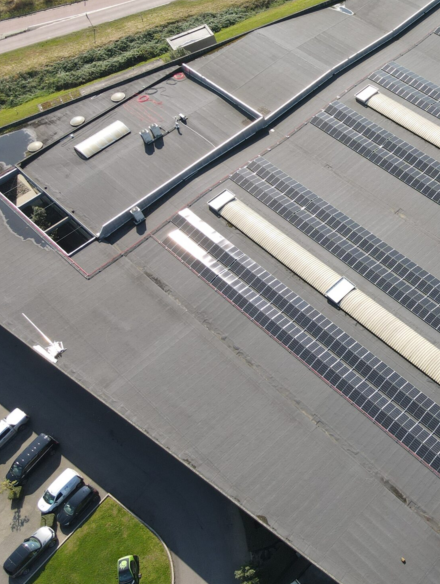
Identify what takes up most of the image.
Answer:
buildings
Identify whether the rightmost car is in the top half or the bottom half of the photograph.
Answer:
bottom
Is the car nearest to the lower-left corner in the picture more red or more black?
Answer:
black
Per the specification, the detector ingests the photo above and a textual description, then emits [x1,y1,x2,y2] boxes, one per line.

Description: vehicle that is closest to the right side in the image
[116,548,142,584]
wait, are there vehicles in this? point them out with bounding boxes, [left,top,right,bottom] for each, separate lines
[116,548,142,584]
[39,467,89,512]
[0,530,58,582]
[0,409,32,447]
[56,486,103,530]
[3,434,63,486]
